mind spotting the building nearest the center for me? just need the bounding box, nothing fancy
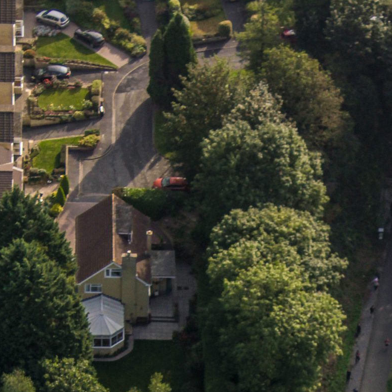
[74,199,181,344]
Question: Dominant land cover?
trees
